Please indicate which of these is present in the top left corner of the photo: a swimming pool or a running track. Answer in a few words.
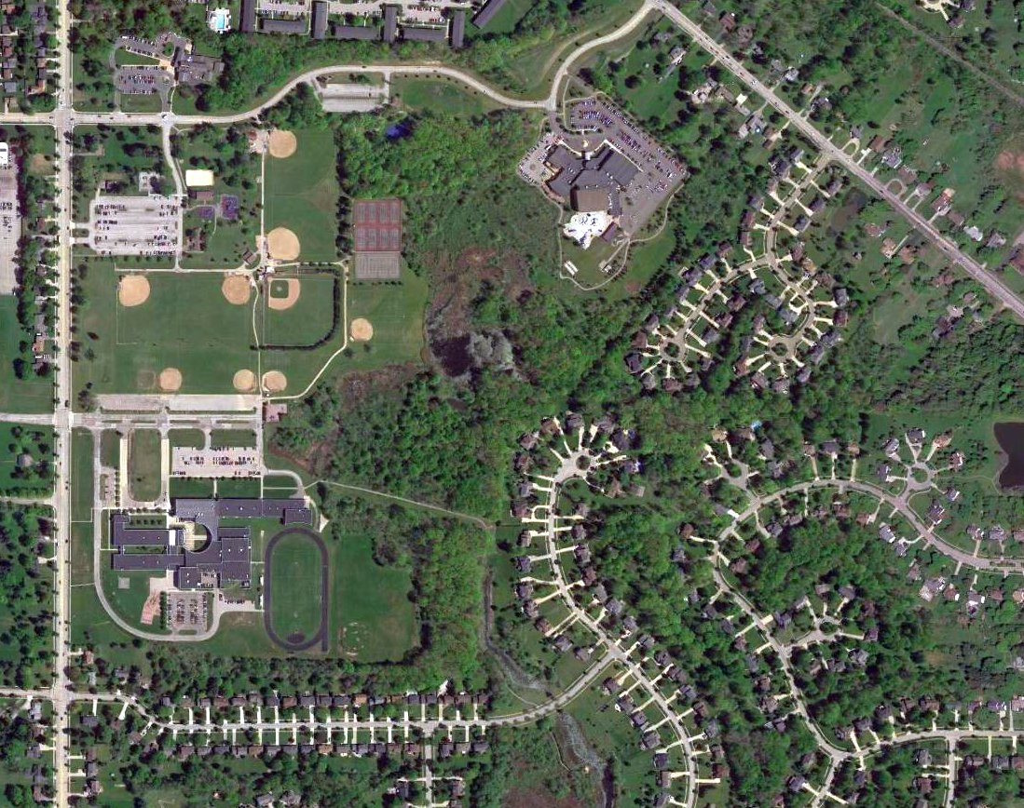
swimming pool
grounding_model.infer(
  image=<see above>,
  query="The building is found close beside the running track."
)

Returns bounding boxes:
[113,500,312,589]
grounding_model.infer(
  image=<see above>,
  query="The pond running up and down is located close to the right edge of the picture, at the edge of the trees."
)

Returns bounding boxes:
[993,420,1024,489]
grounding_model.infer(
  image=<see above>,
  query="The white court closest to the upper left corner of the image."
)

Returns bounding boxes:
[186,170,214,186]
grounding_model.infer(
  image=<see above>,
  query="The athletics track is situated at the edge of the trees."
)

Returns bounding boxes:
[264,527,329,652]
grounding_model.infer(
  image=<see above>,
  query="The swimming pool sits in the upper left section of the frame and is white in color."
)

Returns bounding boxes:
[209,8,231,32]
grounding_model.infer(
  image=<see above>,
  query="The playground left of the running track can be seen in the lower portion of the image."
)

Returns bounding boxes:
[141,591,166,625]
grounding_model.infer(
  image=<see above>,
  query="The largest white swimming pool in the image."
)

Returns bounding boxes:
[564,212,618,249]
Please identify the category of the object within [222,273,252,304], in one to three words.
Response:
baseball field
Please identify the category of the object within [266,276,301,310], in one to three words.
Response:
baseball field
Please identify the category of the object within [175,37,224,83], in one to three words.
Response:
building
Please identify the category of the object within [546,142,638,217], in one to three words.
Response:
building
